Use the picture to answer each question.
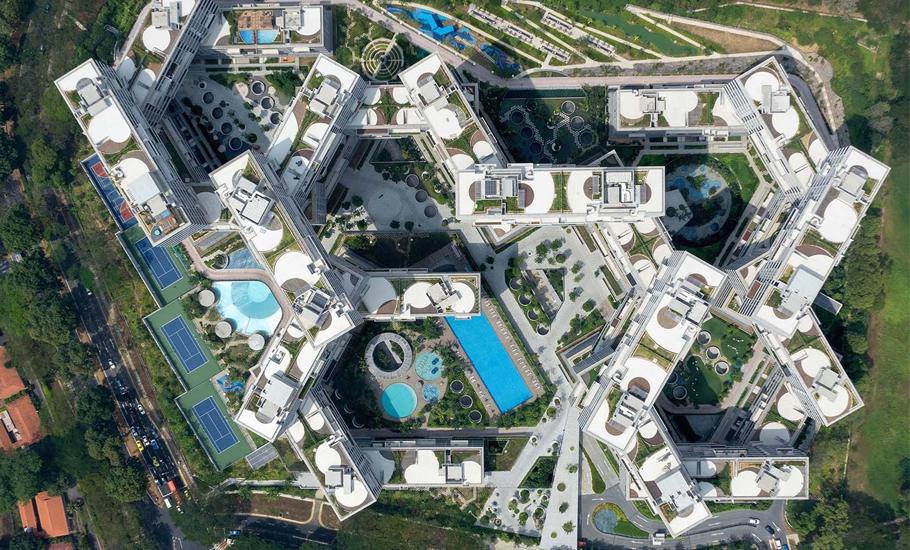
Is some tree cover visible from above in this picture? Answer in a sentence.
Yes, the picture does contain tree cover.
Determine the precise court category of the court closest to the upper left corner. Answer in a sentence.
From above, the court closest to the upper left corner can be identified as a basketball court.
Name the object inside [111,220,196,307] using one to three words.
tennis court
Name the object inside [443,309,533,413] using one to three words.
swimming pool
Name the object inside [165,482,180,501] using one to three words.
vehicle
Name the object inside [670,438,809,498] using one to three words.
building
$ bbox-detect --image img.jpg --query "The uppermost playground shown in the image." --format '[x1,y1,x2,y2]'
[387,6,518,73]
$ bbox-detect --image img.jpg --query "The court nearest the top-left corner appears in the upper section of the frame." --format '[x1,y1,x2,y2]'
[76,151,135,232]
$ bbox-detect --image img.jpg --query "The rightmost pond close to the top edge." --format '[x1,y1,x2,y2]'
[582,12,699,57]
